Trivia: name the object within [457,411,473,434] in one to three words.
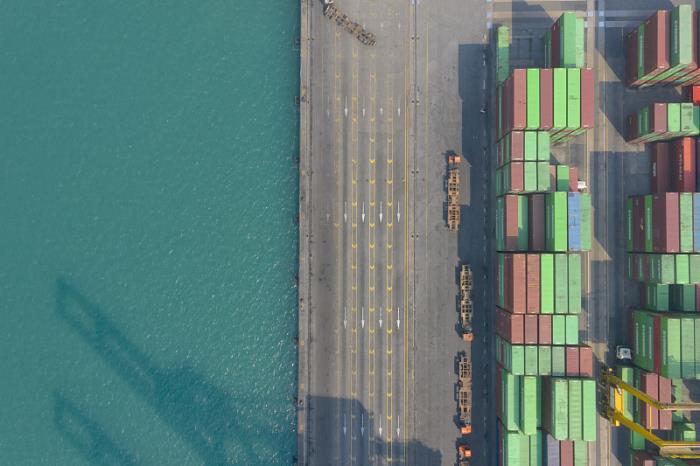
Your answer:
work vehicle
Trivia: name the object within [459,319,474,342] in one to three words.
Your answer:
work vehicle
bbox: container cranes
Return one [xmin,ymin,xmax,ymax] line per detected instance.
[599,365,700,460]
